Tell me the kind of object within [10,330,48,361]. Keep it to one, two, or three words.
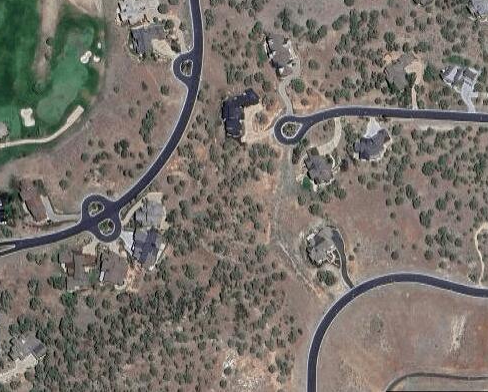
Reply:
house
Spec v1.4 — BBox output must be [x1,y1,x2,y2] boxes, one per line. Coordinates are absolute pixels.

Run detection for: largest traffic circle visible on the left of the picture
[72,193,127,242]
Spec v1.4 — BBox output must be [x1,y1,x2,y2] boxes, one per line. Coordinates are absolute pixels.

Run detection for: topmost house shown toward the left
[117,0,160,24]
